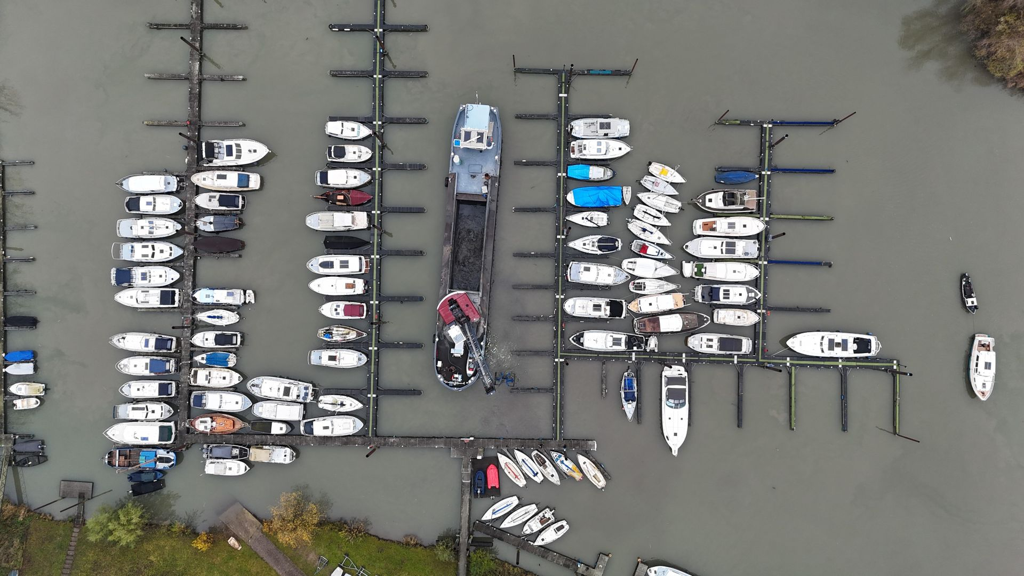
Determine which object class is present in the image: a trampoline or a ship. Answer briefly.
ship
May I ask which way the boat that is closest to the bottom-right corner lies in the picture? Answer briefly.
from top to bottom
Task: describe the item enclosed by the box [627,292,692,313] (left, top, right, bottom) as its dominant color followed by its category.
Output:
white boat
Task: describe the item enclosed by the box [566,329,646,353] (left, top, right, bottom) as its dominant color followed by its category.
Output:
white boat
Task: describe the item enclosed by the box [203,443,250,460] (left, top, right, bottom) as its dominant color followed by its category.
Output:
gray boat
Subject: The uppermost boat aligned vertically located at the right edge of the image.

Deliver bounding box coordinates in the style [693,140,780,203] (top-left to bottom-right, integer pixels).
[958,270,979,314]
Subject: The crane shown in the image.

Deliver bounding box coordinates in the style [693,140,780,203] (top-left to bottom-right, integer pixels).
[435,290,499,395]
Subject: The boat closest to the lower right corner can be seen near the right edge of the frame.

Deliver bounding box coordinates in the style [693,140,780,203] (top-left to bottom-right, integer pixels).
[966,332,999,402]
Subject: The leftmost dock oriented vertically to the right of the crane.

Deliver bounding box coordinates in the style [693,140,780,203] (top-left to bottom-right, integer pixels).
[510,61,631,438]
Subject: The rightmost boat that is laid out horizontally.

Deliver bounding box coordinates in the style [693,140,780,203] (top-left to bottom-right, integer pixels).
[786,330,886,360]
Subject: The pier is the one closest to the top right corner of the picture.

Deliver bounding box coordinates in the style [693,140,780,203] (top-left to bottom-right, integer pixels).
[711,113,836,353]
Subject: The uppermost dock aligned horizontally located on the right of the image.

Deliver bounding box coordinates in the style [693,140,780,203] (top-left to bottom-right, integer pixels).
[561,349,907,436]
